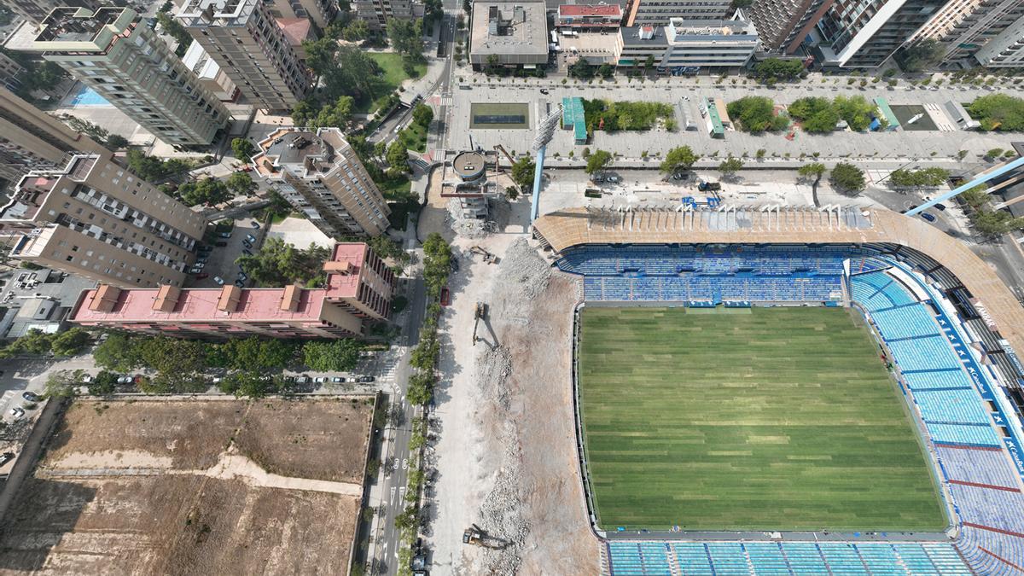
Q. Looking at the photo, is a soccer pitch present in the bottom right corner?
Yes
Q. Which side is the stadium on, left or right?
right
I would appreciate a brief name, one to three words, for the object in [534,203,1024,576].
stadium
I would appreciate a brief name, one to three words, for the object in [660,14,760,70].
building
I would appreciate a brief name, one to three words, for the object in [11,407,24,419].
vehicle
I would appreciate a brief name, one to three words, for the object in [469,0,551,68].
building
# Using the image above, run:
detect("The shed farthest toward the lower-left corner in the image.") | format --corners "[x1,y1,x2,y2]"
[0,395,57,510]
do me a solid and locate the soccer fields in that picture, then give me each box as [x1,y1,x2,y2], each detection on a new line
[575,302,955,540]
